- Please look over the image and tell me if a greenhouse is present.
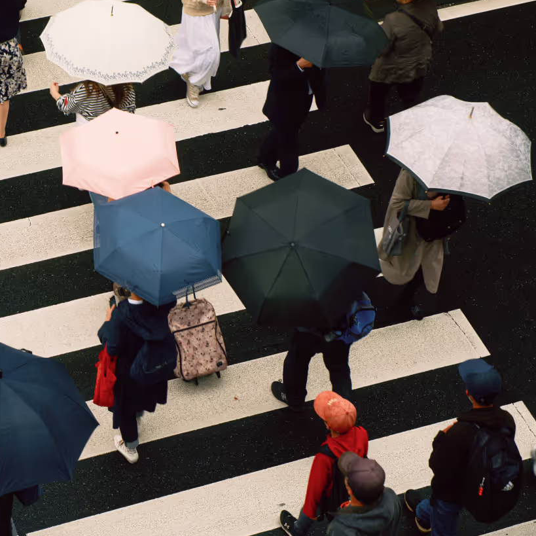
No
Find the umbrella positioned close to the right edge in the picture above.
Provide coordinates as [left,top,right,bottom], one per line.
[387,93,535,213]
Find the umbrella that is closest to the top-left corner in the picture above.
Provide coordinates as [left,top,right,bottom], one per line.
[40,0,177,85]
